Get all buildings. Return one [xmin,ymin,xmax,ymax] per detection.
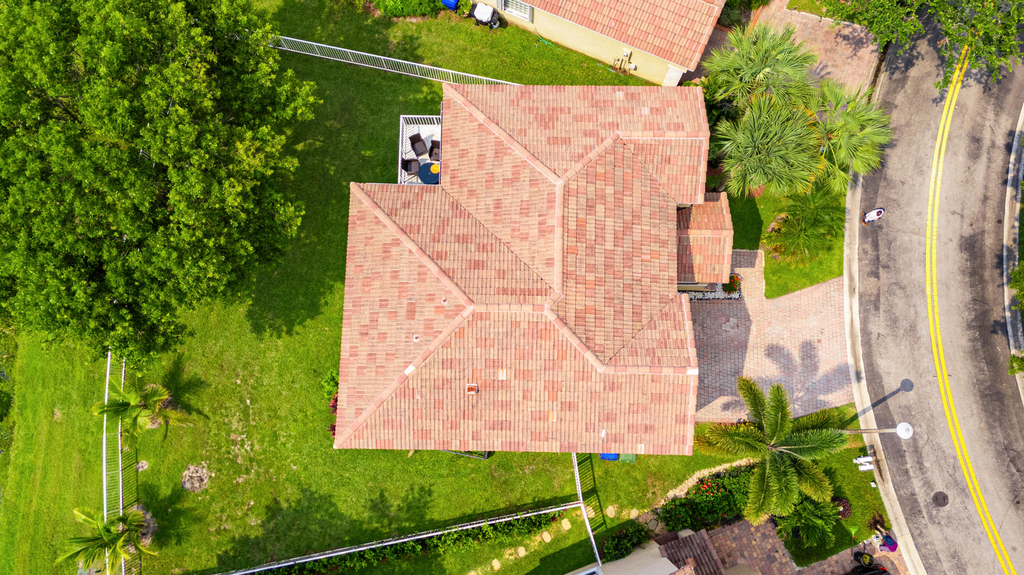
[333,82,734,458]
[469,0,730,85]
[561,527,732,575]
